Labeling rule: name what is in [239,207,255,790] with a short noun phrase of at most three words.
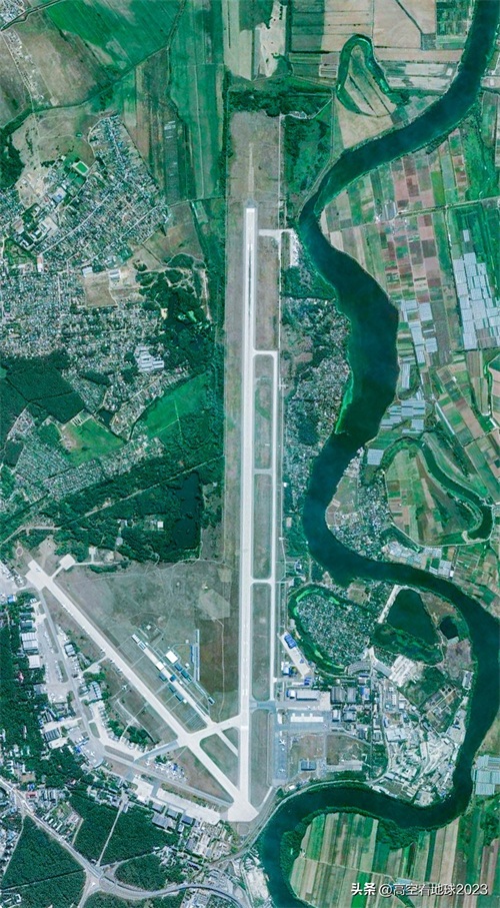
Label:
runway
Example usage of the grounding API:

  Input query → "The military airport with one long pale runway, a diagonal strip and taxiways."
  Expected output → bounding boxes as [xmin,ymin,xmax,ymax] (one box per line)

[0,135,331,825]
